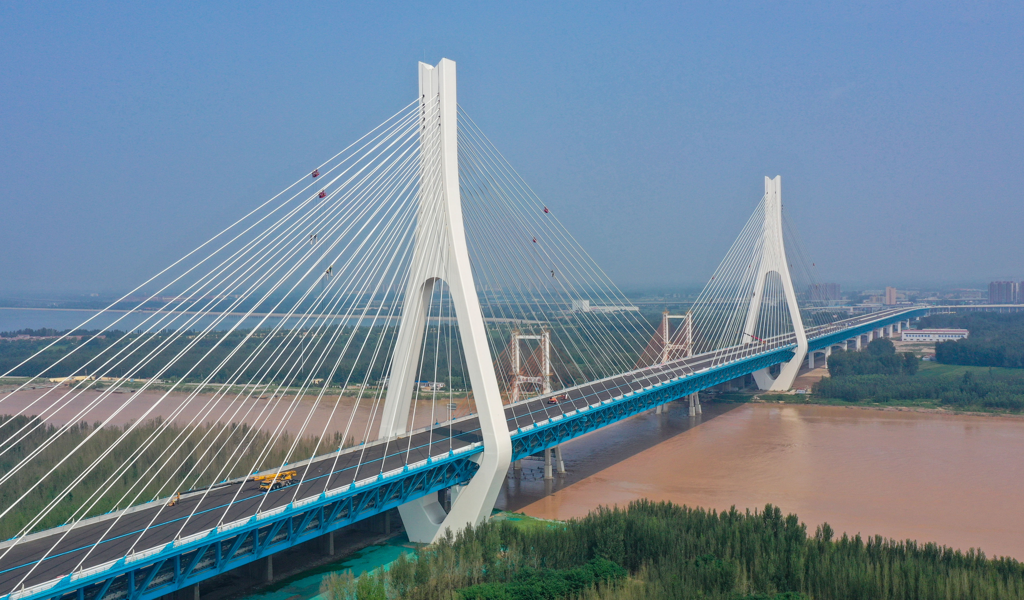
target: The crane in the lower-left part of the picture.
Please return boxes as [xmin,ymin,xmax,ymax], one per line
[174,466,299,502]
